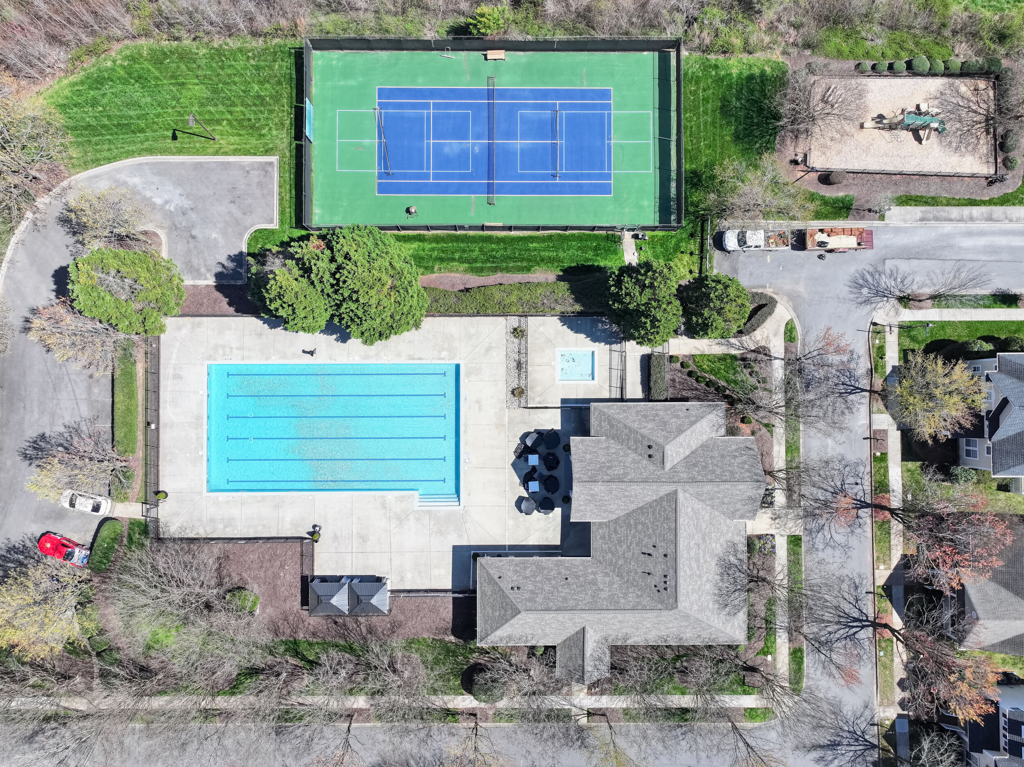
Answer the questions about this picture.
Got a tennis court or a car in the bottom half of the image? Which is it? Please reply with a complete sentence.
You can see a car in the bottom half of the image.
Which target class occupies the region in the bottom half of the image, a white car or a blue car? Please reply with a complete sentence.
The one visible in the bottom half of the image is a white car.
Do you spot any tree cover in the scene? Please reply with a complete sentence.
Yes, there's tree cover in this view.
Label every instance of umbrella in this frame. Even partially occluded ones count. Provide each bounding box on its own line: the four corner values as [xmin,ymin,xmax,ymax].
[540,474,558,492]
[540,452,559,471]
[525,466,537,483]
[536,496,553,513]
[522,431,540,450]
[540,430,559,449]
[514,442,527,458]
[517,495,535,514]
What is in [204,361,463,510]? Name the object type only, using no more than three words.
swimming pool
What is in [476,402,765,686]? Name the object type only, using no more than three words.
building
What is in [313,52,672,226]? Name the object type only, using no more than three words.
tennis court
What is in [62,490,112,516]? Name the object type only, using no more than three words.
car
